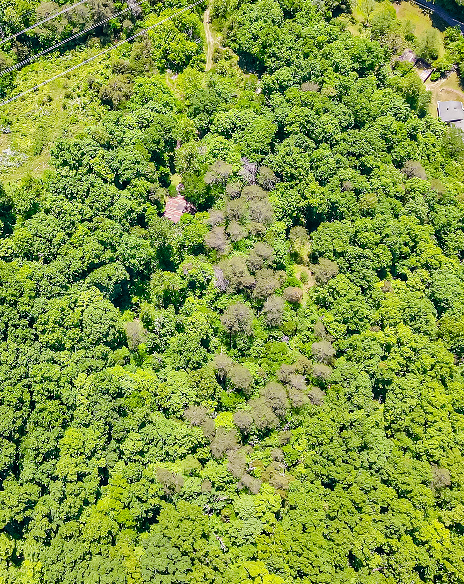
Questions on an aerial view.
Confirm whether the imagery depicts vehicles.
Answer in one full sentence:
No, I can't see a single vehicle in this photo.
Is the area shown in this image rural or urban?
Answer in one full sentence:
From above, the setting appears rural.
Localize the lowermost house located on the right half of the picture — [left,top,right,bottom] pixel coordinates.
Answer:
[436,101,464,152]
